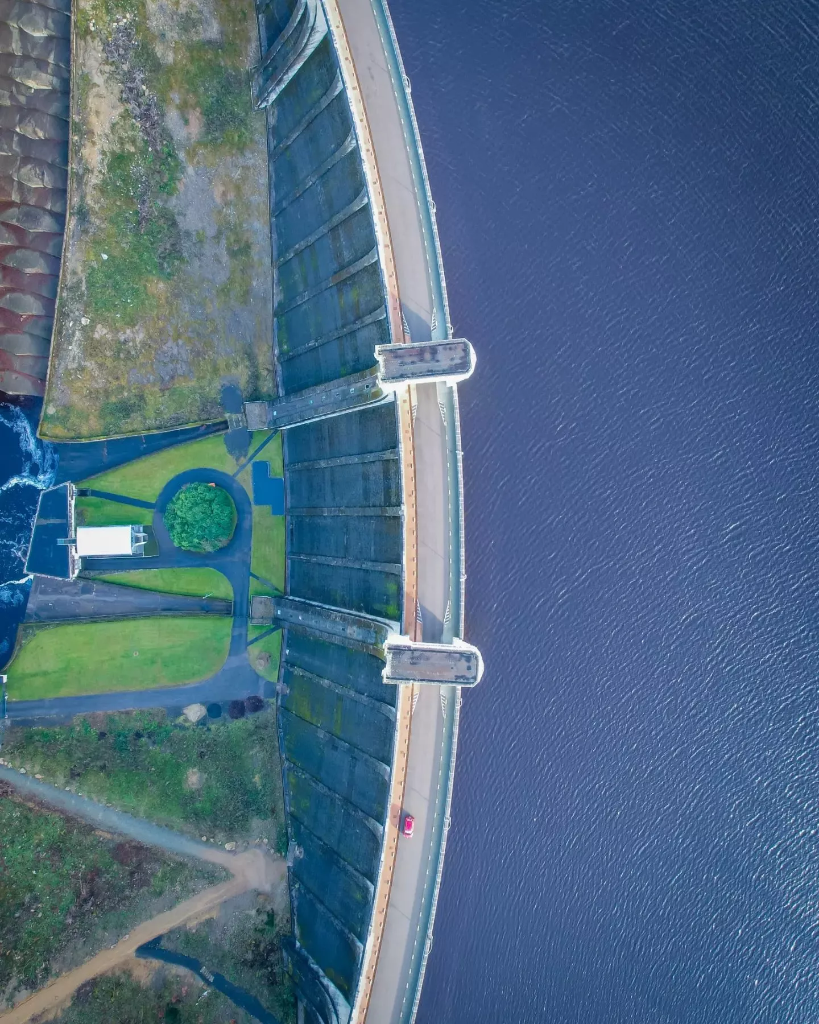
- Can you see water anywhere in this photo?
Yes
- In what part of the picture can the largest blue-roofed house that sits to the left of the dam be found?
left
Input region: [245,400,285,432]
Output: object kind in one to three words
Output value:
building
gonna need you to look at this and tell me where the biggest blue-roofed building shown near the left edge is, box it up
[24,482,89,580]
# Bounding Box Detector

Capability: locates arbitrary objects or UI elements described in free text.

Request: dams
[253,0,465,1024]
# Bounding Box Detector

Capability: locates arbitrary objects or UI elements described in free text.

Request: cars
[403,817,415,839]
